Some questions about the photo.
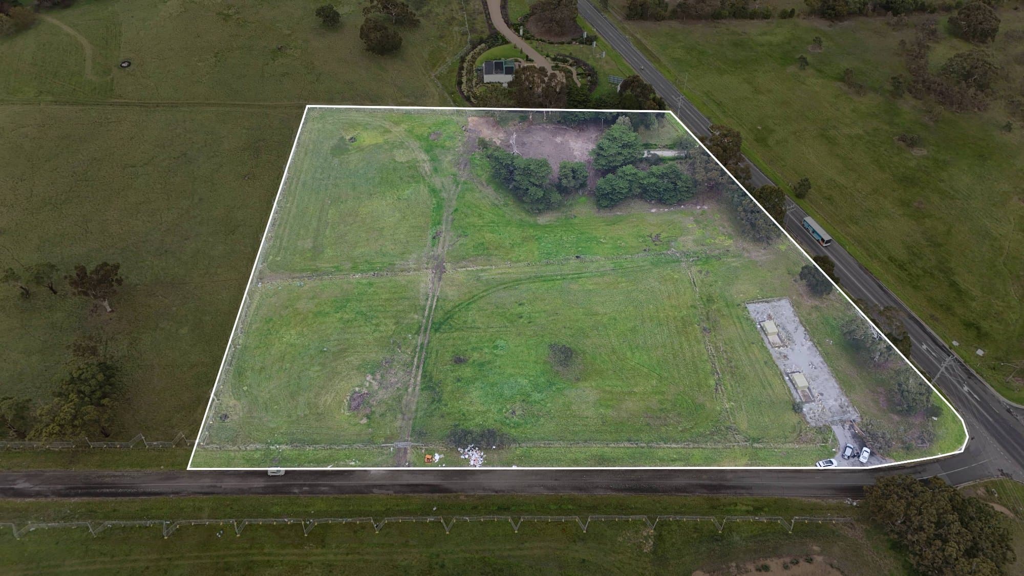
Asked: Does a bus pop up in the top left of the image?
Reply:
No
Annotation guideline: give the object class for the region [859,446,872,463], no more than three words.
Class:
vehicle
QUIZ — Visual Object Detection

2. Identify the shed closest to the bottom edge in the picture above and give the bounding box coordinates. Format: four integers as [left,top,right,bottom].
[784,368,816,400]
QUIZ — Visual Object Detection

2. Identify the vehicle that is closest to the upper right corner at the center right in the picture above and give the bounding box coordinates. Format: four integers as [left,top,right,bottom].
[801,216,834,247]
